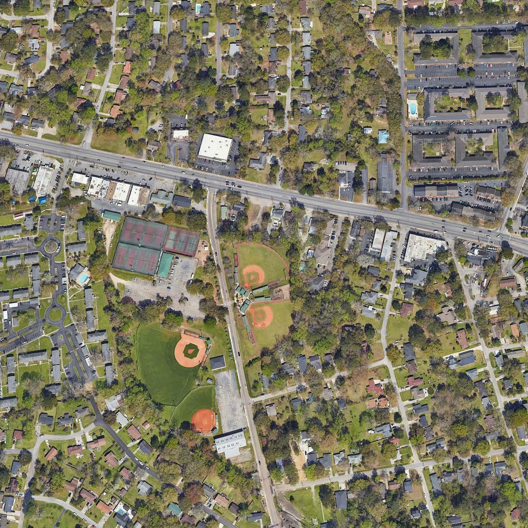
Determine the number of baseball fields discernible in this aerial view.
4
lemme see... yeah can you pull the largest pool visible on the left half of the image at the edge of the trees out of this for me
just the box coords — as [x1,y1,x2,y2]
[75,270,93,288]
